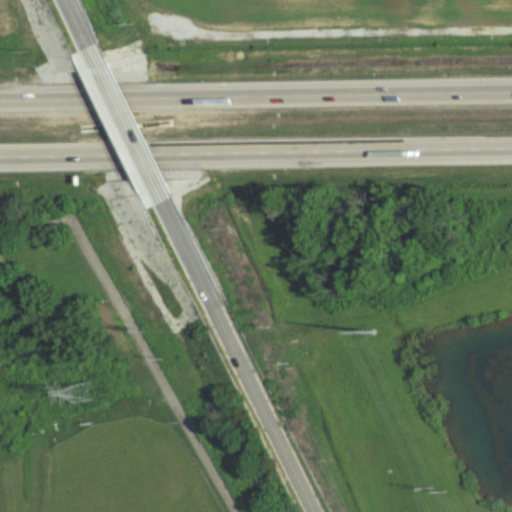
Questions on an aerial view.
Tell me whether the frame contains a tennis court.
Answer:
No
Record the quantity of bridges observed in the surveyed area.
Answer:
1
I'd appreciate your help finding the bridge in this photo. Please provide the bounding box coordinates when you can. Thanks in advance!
[69,42,172,210]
